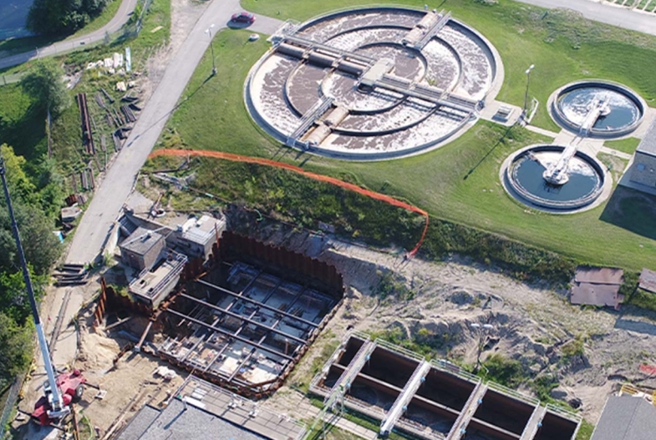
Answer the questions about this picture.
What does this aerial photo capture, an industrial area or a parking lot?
industrial area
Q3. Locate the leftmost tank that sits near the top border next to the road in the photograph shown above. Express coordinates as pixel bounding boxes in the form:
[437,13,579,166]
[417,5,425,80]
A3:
[243,1,502,163]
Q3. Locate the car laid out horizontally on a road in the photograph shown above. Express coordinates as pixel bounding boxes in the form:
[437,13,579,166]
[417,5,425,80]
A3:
[229,11,254,24]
